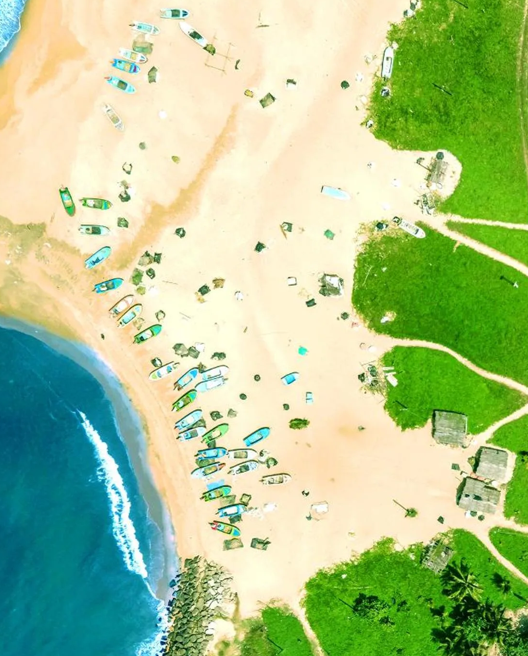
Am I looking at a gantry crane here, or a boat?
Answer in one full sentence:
Of the two, only a boat appears.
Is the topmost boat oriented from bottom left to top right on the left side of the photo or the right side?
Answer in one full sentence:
You can find the topmost boat oriented from bottom left to top right on the left side of the picture.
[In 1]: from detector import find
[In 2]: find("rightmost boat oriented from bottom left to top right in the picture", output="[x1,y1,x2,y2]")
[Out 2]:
[278,374,298,387]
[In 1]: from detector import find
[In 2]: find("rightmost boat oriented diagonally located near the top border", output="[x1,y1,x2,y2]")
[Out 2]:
[176,20,208,49]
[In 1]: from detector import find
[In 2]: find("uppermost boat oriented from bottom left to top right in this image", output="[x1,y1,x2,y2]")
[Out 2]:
[82,247,109,269]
